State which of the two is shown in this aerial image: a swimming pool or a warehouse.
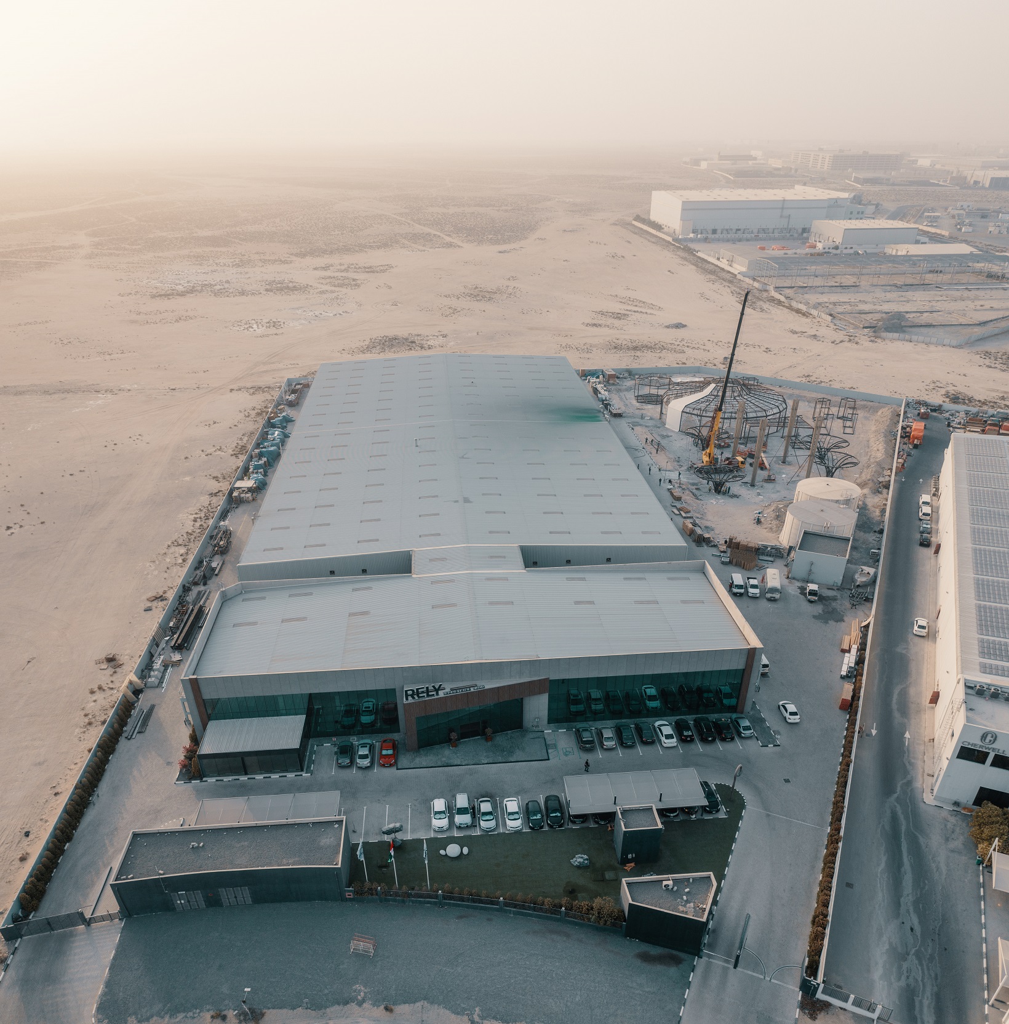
warehouse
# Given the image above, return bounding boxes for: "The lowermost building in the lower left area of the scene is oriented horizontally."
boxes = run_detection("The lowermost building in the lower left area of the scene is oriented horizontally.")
[111,817,350,918]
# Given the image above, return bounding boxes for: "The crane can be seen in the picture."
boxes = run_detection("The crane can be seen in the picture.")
[696,291,751,470]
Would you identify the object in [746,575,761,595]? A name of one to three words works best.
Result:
vehicle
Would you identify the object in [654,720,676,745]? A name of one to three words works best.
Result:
car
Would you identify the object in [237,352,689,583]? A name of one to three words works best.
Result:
warehouse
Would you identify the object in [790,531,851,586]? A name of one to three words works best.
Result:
building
